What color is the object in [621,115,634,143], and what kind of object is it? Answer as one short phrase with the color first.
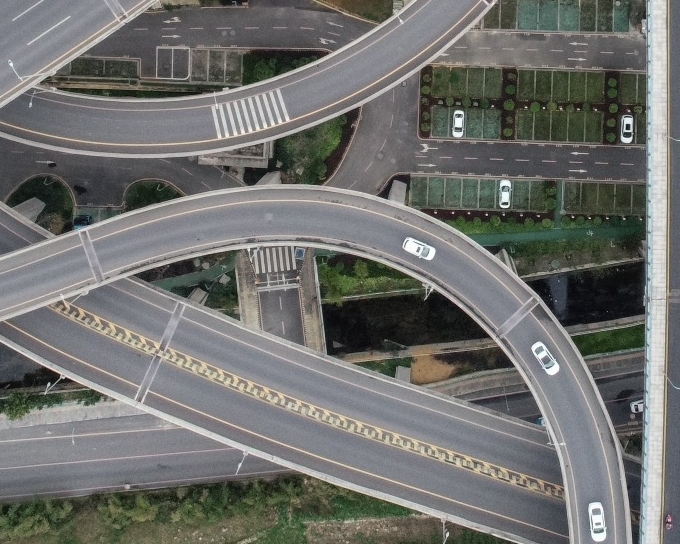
white vehicle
